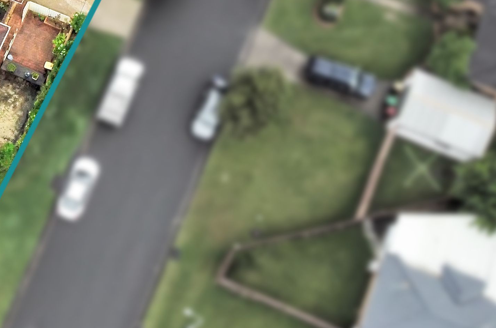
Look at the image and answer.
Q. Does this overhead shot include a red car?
No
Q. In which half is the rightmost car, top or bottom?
top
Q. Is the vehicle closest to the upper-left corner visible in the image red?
No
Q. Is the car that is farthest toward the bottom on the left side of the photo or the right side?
left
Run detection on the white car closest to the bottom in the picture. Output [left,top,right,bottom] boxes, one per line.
[56,158,99,222]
